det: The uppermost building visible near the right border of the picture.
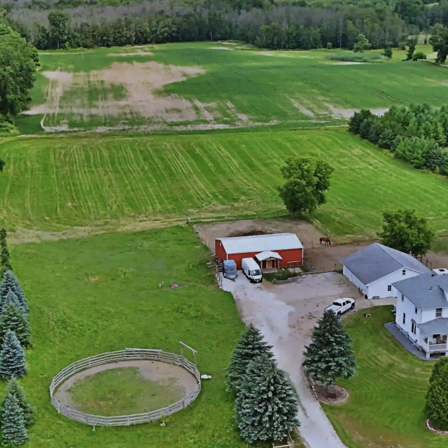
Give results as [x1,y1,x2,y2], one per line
[338,242,432,299]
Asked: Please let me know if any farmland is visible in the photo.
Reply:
Yes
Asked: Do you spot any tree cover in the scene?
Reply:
Yes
